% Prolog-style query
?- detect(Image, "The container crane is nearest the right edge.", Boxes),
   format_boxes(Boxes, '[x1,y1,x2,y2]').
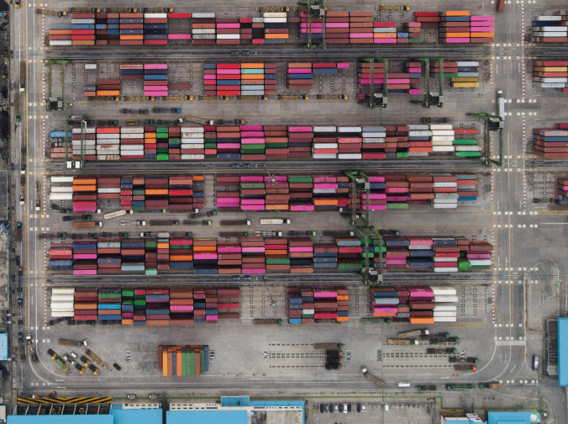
[464,111,505,167]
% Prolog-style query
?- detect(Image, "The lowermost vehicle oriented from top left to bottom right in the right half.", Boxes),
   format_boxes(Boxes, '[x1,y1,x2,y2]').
[359,363,385,387]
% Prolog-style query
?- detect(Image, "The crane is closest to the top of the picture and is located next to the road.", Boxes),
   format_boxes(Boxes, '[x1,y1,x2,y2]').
[295,0,325,51]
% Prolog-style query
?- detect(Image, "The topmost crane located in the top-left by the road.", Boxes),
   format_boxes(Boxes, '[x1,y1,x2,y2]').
[46,57,75,111]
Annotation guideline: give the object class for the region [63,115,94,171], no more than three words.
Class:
container crane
